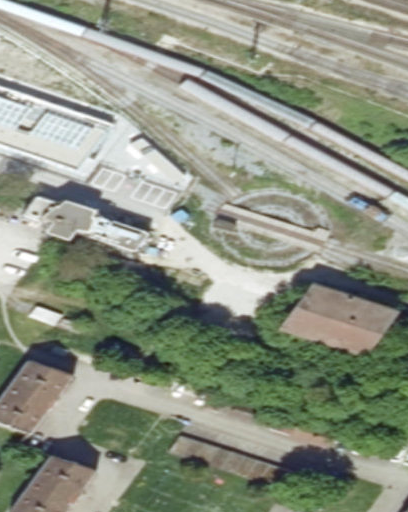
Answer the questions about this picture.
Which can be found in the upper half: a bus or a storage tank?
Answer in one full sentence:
What appears in the upper half is a bus.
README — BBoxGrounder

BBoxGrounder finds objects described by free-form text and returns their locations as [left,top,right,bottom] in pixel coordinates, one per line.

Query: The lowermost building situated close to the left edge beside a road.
[7,457,95,512]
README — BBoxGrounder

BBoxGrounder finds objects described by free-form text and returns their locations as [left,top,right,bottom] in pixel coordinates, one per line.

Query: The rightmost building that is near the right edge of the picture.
[281,284,399,358]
